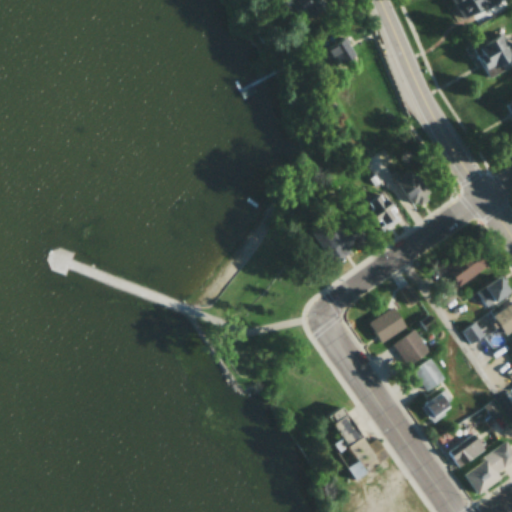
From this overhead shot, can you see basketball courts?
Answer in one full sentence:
No, the scene contains no basketball court.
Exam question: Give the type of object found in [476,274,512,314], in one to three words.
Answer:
house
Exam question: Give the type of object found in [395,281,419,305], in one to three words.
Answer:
building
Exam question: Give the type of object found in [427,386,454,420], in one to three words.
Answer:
house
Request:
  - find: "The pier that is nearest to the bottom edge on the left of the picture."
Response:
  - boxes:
[48,248,203,319]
